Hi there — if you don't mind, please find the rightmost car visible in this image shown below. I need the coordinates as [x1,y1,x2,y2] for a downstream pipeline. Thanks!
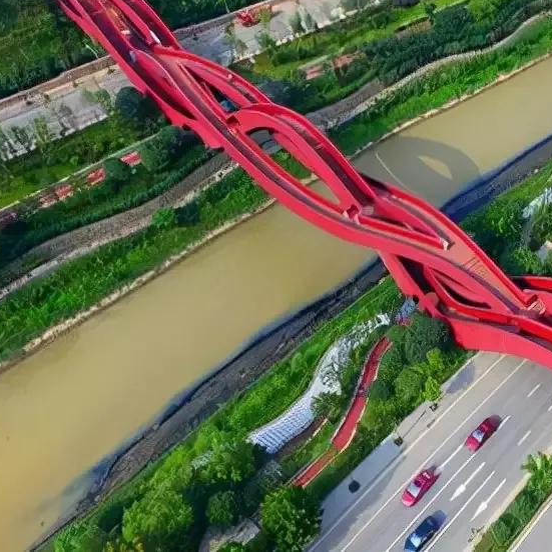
[463,414,502,454]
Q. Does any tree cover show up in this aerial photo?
Yes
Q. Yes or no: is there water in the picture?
Yes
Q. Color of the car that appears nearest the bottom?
blue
